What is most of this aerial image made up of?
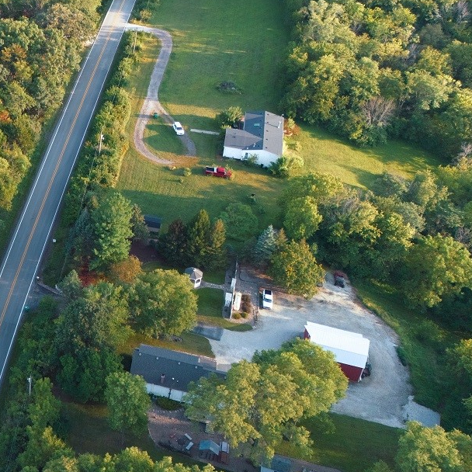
trees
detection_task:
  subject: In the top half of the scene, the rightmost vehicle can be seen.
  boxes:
[206,165,231,177]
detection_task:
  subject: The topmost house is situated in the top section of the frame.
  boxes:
[222,111,284,169]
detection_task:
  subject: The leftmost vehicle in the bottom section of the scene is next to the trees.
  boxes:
[263,285,275,310]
